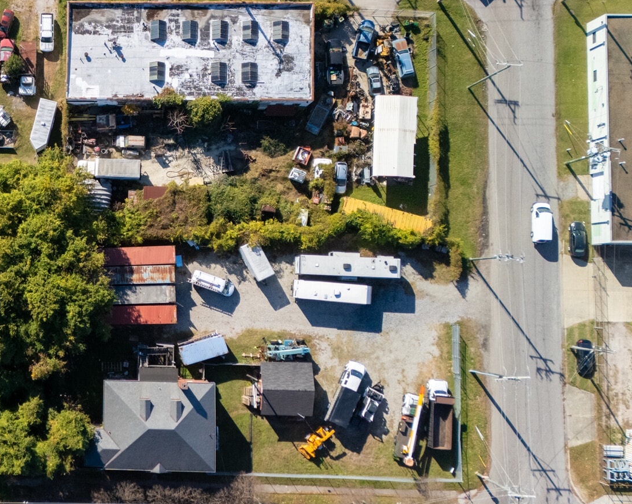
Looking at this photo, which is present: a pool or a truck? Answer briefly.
truck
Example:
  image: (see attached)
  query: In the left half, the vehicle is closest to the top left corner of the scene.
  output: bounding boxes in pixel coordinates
[0,6,14,39]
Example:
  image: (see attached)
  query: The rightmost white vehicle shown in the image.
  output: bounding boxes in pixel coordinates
[526,204,550,244]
